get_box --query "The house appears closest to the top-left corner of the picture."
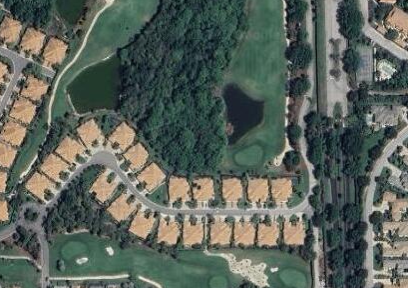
[0,18,22,44]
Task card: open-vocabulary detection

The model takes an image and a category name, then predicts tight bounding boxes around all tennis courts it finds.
[356,46,374,81]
